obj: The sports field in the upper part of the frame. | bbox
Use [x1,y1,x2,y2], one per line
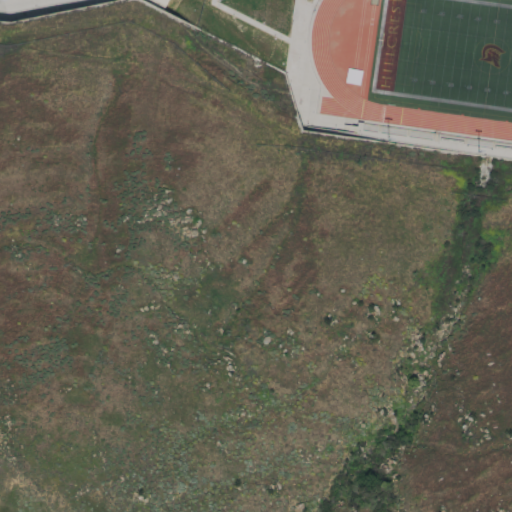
[368,0,512,122]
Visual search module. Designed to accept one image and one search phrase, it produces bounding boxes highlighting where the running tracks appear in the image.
[312,0,512,142]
